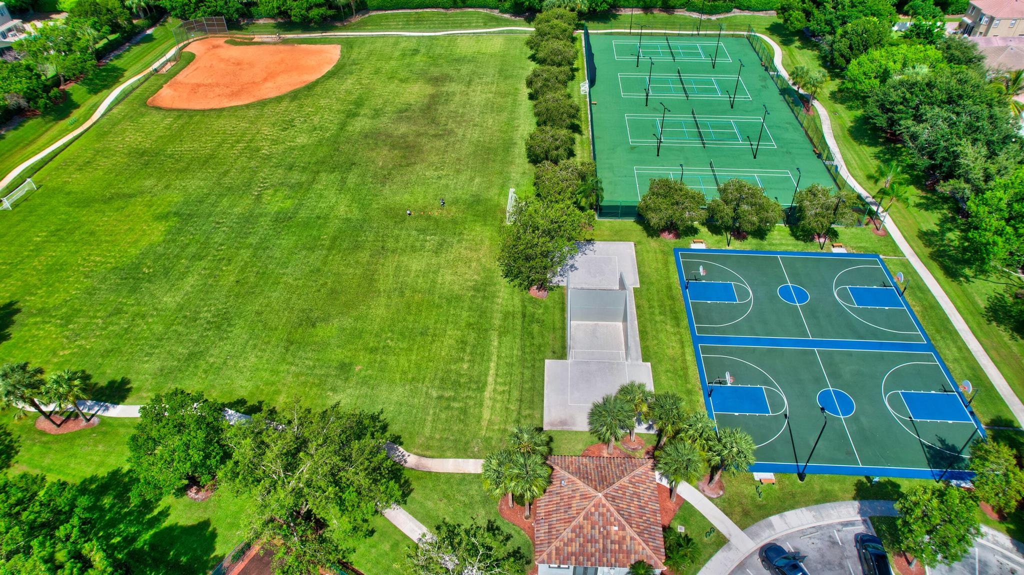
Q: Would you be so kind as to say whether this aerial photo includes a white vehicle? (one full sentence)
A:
No, I can't see a single white vehicle in this photo.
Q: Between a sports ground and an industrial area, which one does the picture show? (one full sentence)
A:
This image shows a sports ground.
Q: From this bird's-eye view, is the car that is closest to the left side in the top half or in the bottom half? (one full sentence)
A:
Seen from above, the car that is closest to the left side lies in the bottom half of the view.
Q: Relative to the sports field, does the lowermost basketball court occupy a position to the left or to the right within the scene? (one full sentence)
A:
In the image, the lowermost basketball court sits on the right side of the sports field.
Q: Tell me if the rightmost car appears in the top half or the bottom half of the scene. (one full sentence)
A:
It is in the bottom half that the rightmost car appears.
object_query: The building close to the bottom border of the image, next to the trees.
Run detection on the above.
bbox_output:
[535,454,668,575]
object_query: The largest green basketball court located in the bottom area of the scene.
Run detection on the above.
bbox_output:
[693,339,998,483]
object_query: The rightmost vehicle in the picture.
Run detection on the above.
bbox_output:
[854,531,891,575]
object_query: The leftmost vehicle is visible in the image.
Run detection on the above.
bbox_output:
[765,543,808,575]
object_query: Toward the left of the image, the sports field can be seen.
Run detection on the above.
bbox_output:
[0,35,543,454]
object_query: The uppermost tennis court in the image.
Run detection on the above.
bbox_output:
[589,35,764,68]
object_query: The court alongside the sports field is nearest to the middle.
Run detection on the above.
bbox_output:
[543,239,655,434]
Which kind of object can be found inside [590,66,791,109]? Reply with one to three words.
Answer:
tennis court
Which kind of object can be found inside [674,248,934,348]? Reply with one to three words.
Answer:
basketball court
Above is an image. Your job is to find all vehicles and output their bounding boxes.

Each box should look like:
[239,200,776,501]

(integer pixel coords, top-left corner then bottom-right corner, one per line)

[765,543,808,575]
[854,531,891,575]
